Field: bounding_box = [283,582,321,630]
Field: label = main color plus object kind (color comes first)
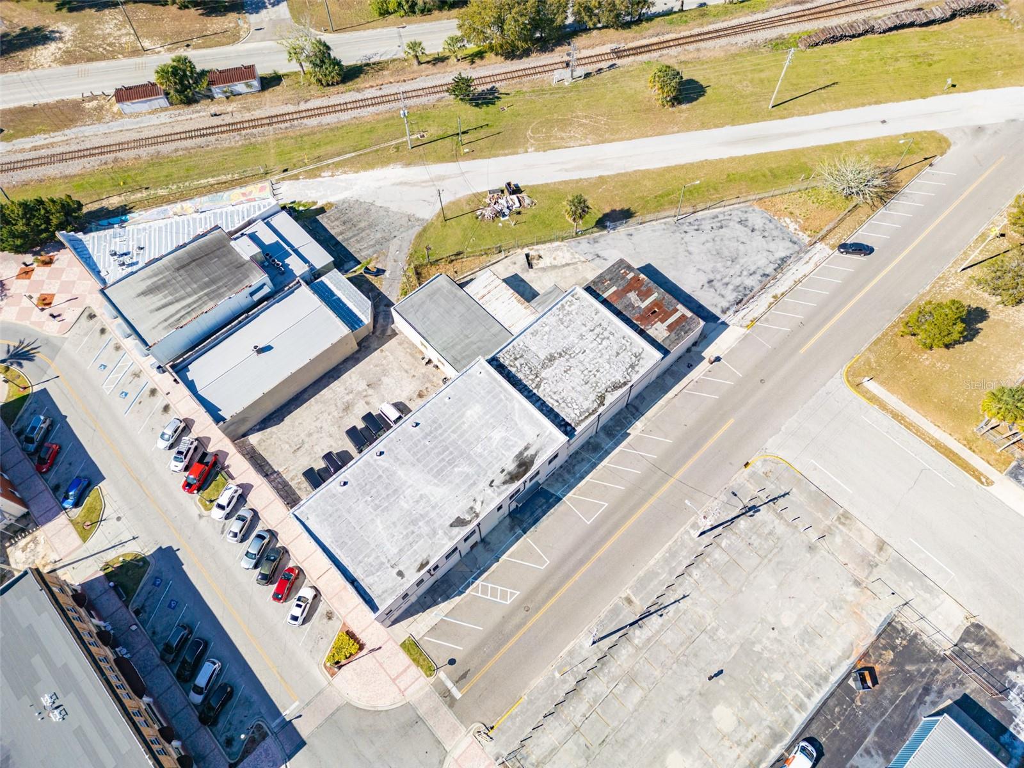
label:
white car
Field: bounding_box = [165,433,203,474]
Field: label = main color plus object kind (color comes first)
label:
white car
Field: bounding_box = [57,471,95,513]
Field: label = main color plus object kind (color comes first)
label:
blue car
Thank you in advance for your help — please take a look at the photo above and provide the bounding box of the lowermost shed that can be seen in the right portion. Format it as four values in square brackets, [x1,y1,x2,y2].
[885,712,1007,768]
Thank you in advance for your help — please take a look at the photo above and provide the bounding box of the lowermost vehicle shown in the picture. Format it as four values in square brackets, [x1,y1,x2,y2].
[775,726,825,768]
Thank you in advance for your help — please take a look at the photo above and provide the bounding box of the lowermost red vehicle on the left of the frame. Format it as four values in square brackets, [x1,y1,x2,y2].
[267,563,302,605]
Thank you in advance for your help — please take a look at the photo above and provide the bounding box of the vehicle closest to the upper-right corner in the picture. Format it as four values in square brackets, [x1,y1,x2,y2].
[837,240,874,257]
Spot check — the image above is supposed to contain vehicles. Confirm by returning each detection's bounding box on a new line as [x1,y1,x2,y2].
[207,481,246,522]
[267,563,302,605]
[165,433,203,474]
[57,471,95,513]
[171,634,212,686]
[322,454,343,479]
[302,471,324,495]
[152,414,191,452]
[775,726,825,768]
[251,542,290,588]
[18,413,54,453]
[837,240,874,257]
[283,582,321,630]
[221,504,257,547]
[178,449,224,497]
[194,676,237,731]
[362,414,385,443]
[184,656,226,709]
[346,428,370,456]
[153,618,196,668]
[31,439,66,475]
[237,527,274,572]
